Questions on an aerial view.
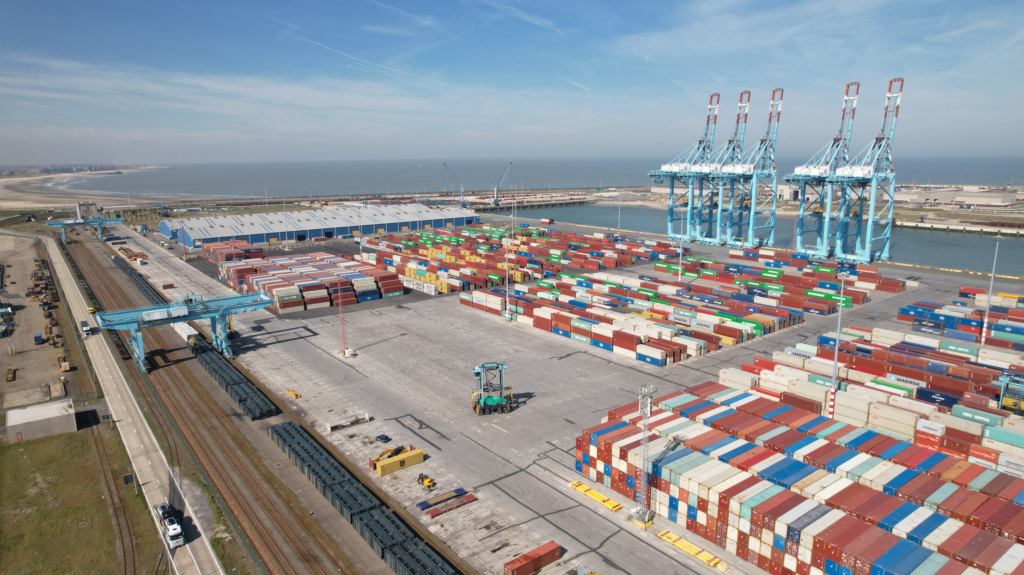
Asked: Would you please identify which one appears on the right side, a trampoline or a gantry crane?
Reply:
gantry crane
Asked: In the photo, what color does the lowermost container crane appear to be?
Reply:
blue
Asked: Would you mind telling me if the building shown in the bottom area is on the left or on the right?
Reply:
left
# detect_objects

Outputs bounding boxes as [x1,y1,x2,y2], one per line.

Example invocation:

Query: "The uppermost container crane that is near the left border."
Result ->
[46,214,122,243]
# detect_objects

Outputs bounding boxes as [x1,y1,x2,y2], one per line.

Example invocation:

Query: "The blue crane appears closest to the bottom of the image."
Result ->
[95,286,277,373]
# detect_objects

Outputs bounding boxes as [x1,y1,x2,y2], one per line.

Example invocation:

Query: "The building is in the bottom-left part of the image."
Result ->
[6,399,77,444]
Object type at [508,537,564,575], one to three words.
shipping container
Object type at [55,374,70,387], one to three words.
vehicle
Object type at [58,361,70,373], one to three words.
vehicle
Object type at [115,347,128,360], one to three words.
rail car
